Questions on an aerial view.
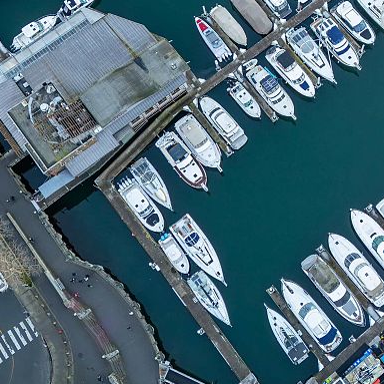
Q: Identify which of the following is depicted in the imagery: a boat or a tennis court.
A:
boat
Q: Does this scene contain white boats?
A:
Yes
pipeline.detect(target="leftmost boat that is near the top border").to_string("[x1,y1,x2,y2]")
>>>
[12,12,57,48]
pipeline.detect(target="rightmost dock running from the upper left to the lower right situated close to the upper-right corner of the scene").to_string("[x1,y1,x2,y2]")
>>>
[322,5,368,58]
